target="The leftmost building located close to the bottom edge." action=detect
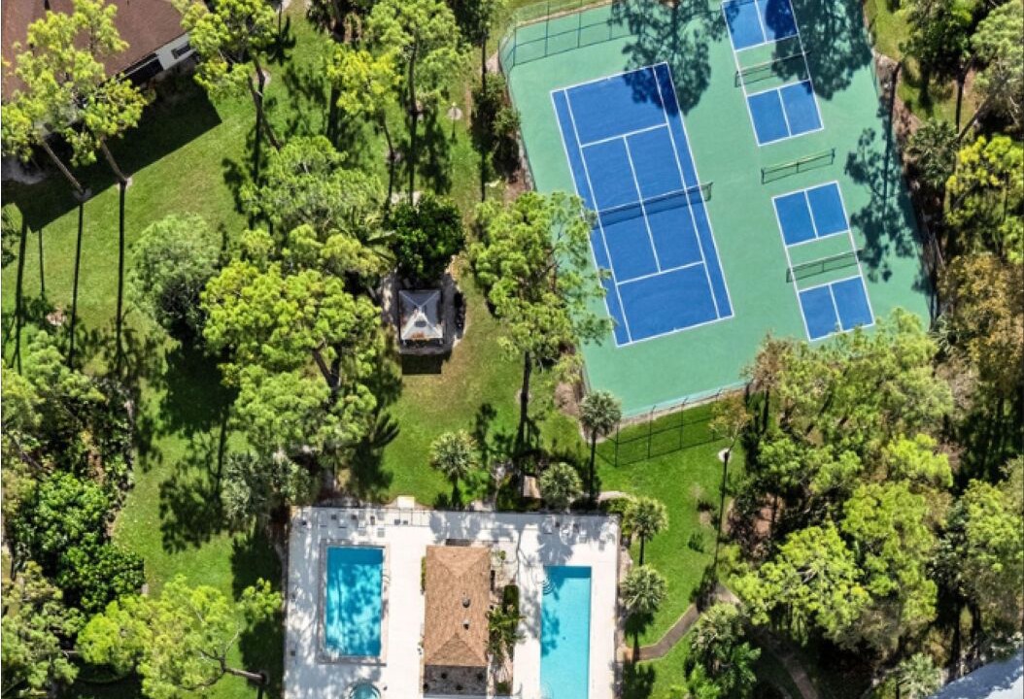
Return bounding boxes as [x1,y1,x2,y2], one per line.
[423,538,491,668]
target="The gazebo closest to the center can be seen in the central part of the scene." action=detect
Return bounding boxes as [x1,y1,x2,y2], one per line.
[399,290,443,344]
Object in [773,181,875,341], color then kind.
blue sports court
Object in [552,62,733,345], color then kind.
blue tennis court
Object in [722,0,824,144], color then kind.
blue sports court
